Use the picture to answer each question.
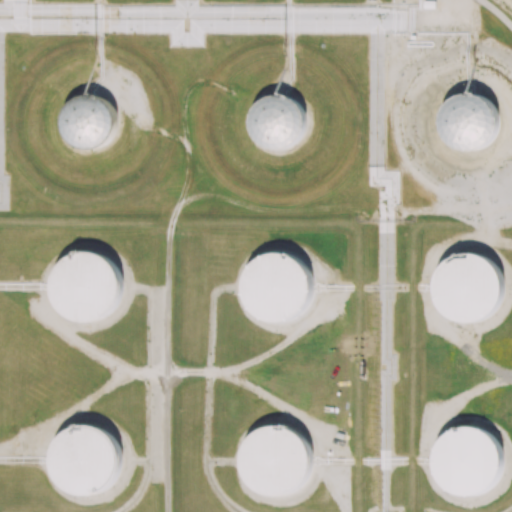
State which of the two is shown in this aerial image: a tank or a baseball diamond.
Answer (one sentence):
It is a tank that can be seen here.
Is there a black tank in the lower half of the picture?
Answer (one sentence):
No, there is no black tank in the lower half of the picture.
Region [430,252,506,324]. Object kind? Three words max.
storage tank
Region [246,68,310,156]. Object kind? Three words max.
storage tank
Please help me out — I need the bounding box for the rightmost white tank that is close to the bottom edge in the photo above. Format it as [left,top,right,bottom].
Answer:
[429,426,505,498]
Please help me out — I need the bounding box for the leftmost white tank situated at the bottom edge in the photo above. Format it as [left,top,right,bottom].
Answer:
[46,424,122,497]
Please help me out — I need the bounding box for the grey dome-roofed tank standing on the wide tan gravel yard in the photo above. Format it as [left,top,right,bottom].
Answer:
[436,62,500,154]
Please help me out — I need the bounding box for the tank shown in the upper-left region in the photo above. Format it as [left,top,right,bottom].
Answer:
[58,61,118,152]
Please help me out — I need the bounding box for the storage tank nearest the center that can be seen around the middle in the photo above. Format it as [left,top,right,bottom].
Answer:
[238,250,314,325]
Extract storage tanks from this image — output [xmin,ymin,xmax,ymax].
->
[58,61,118,152]
[236,424,312,498]
[436,62,500,154]
[48,251,124,324]
[46,424,122,497]
[429,426,505,498]
[238,250,314,325]
[246,68,310,156]
[430,252,506,324]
